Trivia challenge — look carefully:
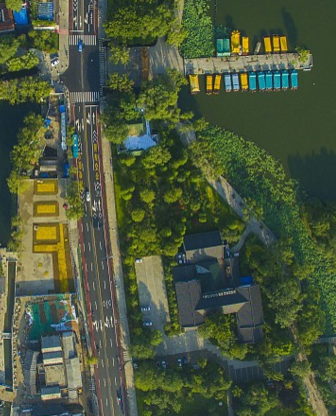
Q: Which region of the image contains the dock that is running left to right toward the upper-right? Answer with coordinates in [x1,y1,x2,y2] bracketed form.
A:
[185,53,312,75]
